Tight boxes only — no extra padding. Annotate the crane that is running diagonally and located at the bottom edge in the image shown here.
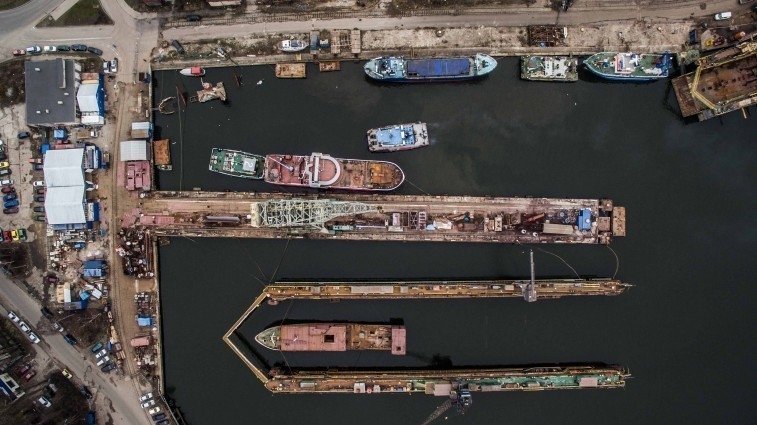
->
[417,384,475,425]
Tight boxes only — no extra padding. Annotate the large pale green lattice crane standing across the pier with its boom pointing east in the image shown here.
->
[251,193,387,232]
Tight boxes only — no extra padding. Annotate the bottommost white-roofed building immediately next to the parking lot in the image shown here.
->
[42,149,94,224]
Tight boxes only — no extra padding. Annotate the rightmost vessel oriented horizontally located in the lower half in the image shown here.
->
[256,322,407,355]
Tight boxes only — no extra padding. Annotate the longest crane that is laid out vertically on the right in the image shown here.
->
[520,247,540,301]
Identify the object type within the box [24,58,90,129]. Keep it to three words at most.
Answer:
building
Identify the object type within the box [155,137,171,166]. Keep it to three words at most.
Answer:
ship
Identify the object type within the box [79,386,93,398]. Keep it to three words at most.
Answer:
vehicle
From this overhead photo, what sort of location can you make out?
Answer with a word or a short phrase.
port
